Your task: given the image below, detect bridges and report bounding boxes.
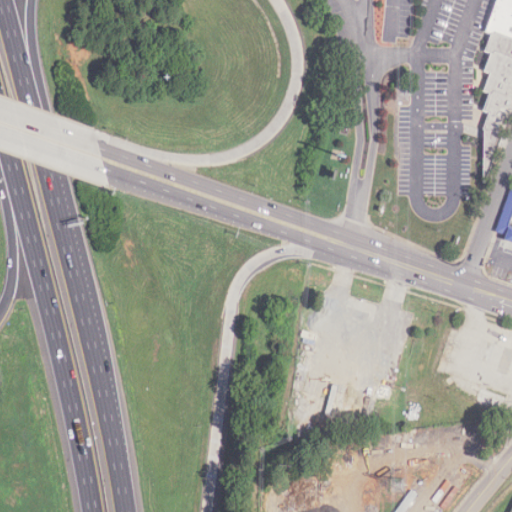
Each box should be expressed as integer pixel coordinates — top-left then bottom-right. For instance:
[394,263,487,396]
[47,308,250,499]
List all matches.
[0,94,109,190]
